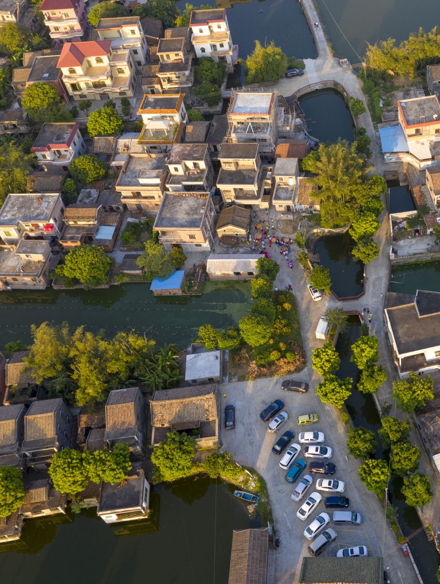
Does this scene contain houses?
Yes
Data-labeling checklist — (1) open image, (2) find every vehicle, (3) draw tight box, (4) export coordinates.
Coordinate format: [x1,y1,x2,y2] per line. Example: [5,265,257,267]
[283,458,308,485]
[259,400,285,421]
[303,445,333,460]
[315,479,345,493]
[332,510,363,525]
[278,444,303,470]
[308,461,337,476]
[297,413,319,427]
[296,493,324,521]
[306,285,323,302]
[337,545,368,558]
[285,68,305,79]
[303,512,332,541]
[307,528,338,556]
[222,406,236,431]
[282,382,309,394]
[299,431,325,444]
[315,311,330,339]
[271,431,297,456]
[290,475,315,503]
[324,494,351,510]
[265,412,290,434]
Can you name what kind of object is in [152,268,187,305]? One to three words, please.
building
